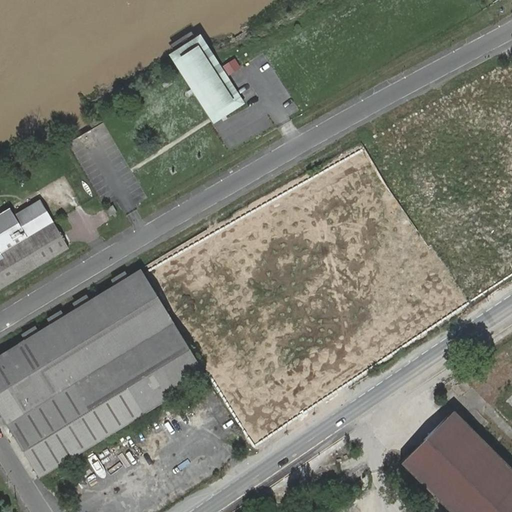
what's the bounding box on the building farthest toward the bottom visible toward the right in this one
[403,412,512,512]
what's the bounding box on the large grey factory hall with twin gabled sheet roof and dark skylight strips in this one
[0,269,204,478]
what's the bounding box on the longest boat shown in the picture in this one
[86,454,106,478]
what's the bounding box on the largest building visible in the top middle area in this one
[168,31,245,122]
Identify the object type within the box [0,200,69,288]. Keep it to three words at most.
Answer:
building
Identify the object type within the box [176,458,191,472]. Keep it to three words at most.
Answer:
vehicle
